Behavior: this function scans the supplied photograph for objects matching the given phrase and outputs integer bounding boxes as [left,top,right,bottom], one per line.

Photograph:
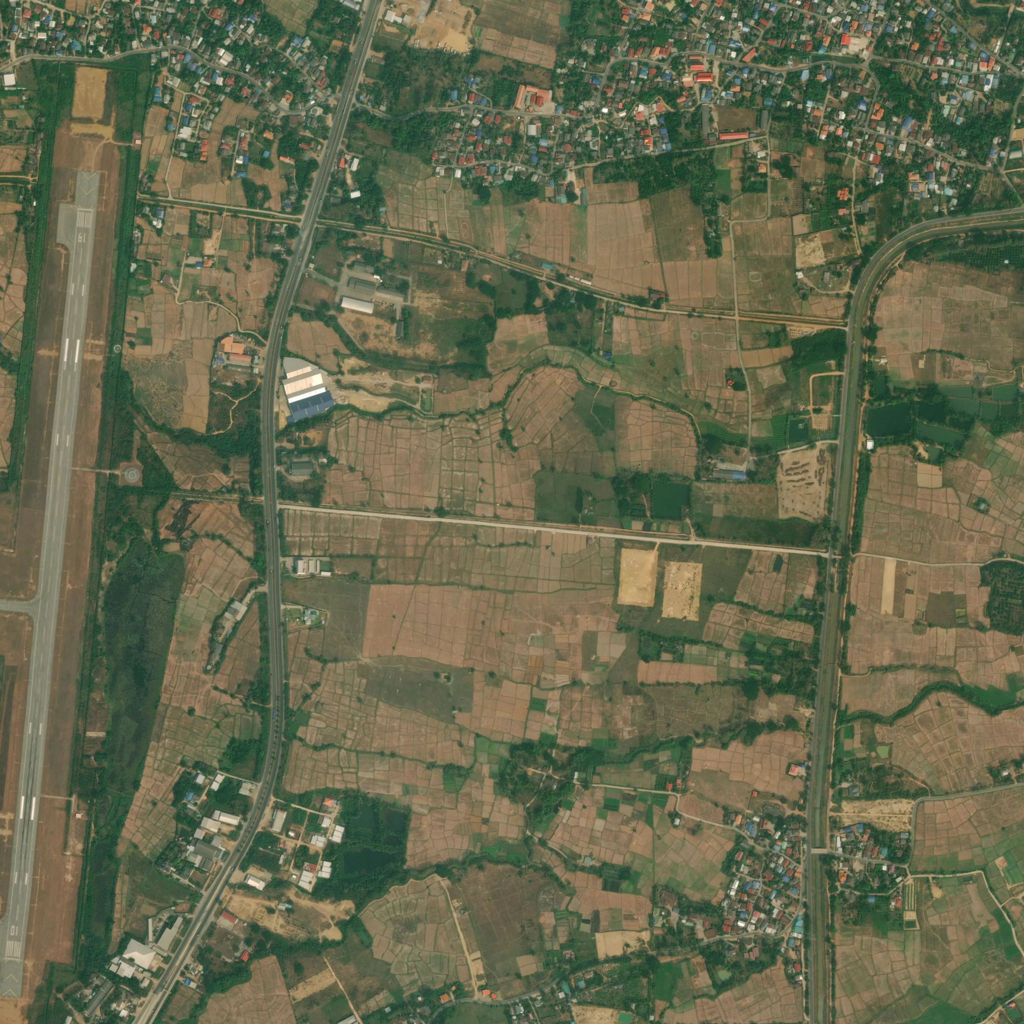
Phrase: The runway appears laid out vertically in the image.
[0,171,100,997]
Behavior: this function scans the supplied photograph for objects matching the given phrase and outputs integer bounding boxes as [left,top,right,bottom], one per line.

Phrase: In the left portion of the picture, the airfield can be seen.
[0,171,100,997]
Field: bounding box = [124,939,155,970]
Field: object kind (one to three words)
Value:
building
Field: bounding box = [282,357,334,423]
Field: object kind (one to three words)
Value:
building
